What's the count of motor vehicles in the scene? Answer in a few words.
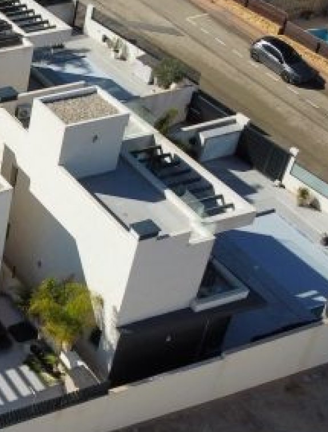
1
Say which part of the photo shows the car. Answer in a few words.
top right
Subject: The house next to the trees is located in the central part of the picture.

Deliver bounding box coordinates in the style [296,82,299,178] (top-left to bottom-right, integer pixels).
[0,72,260,382]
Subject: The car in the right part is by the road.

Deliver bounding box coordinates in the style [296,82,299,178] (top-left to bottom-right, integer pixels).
[252,34,317,78]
